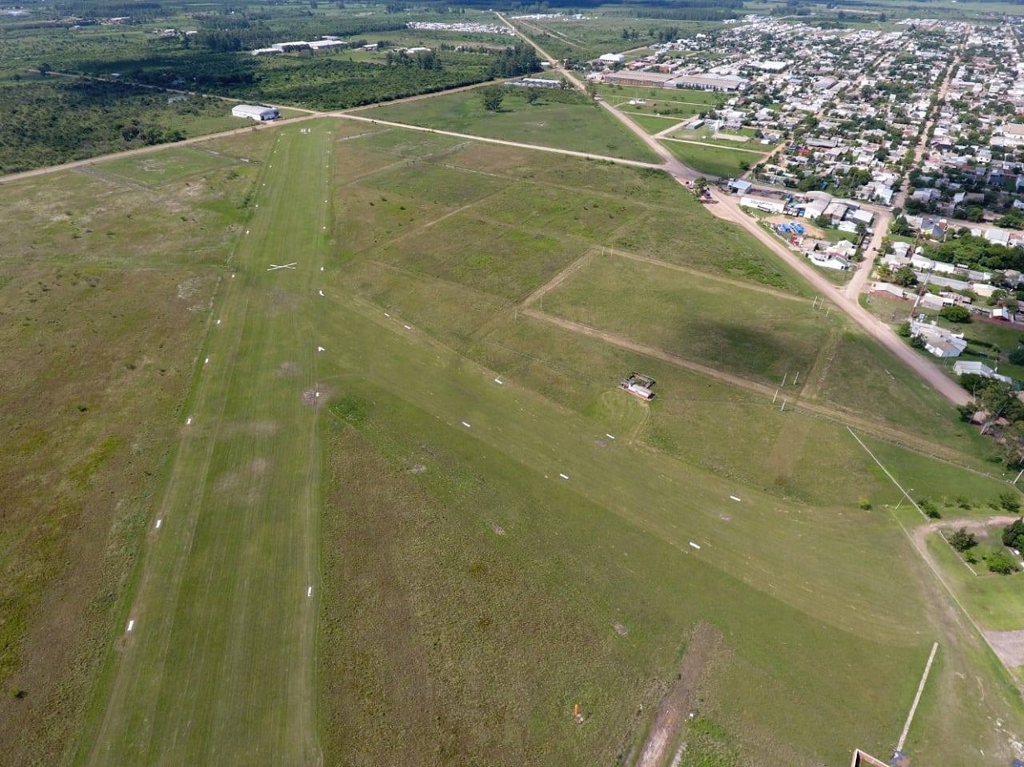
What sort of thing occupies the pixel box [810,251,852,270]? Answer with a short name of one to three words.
house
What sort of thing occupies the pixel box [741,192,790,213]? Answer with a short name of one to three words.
building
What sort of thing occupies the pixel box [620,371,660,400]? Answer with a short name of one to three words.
building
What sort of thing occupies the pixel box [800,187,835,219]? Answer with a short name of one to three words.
barn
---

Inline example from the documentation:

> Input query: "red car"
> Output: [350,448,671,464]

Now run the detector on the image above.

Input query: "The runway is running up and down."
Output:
[65,116,334,767]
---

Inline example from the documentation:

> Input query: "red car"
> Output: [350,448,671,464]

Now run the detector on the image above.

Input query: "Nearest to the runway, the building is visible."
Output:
[231,103,275,120]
